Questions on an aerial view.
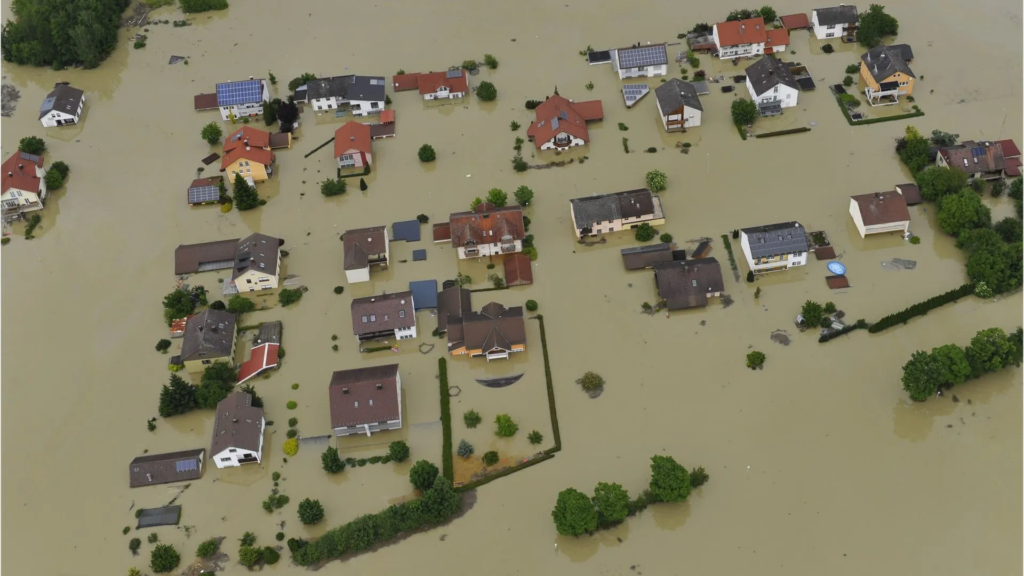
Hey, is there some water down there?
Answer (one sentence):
Yes, the picture does contain water.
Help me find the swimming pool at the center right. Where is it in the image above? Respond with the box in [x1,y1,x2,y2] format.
[827,260,846,274]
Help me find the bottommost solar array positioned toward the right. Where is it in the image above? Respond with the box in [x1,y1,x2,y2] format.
[749,229,809,258]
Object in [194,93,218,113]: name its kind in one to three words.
building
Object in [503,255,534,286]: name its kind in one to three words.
shed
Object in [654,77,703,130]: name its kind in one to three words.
house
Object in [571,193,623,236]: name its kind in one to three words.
house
